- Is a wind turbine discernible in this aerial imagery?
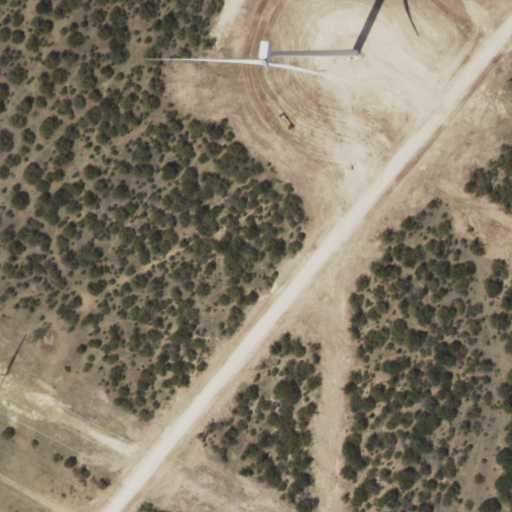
Yes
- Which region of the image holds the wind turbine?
top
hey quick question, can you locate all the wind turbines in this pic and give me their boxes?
[152,42,364,88]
